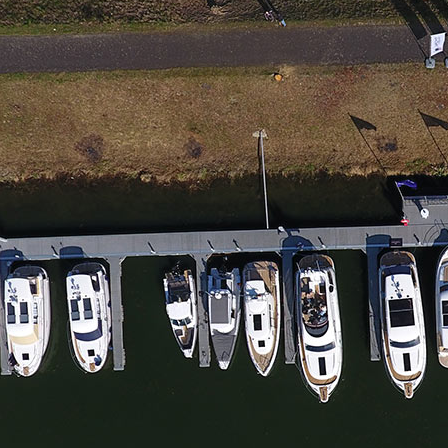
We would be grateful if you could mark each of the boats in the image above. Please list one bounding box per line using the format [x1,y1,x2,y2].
[434,245,448,368]
[164,253,198,359]
[242,251,284,376]
[0,259,53,376]
[205,254,242,369]
[55,255,115,373]
[290,250,344,403]
[376,245,427,399]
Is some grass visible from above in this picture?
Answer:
Yes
